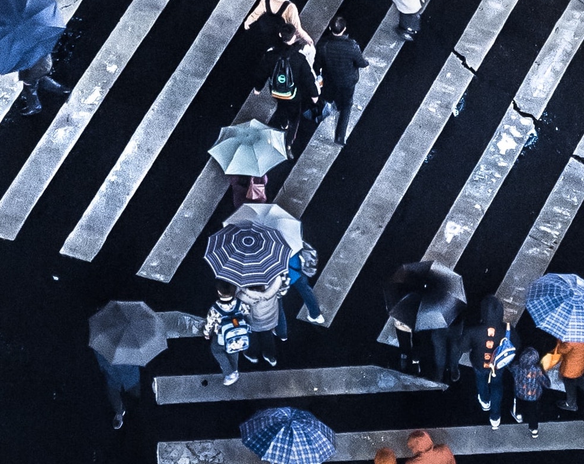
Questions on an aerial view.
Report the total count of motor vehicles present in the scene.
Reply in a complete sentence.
The count of motor vehicles is 0.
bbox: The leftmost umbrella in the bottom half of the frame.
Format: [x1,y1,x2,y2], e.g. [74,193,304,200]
[89,300,167,367]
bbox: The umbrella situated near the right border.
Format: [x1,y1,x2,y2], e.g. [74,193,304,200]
[523,272,584,346]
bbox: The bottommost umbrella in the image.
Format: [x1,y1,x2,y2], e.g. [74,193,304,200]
[238,407,337,464]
